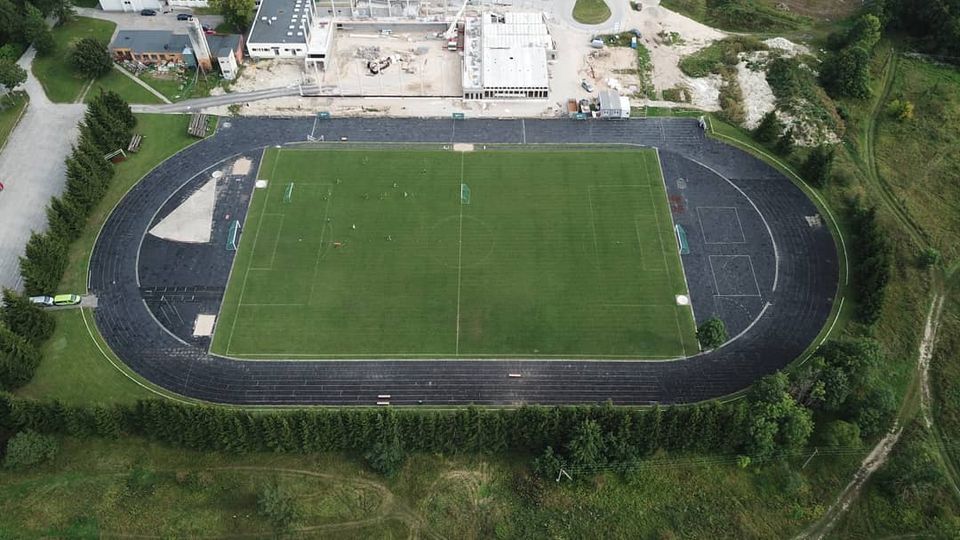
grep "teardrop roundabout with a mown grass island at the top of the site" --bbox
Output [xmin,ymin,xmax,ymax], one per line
[562,0,622,31]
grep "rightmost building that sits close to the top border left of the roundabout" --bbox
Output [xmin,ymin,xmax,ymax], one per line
[464,10,558,100]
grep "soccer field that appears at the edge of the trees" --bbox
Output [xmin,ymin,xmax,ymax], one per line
[209,142,699,358]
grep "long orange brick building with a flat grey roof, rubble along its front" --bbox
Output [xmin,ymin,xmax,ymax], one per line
[111,29,197,64]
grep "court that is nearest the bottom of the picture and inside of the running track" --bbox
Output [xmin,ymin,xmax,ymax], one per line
[709,255,761,314]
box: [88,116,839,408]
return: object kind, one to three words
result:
running track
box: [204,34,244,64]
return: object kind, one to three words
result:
building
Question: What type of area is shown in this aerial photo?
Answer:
sports ground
